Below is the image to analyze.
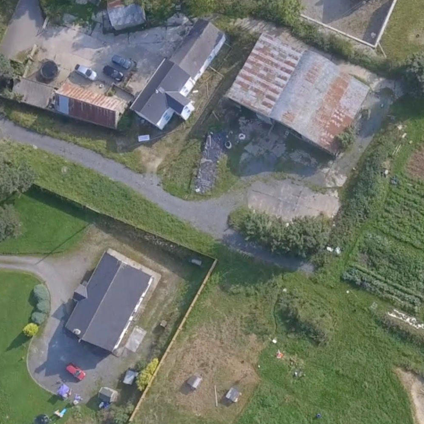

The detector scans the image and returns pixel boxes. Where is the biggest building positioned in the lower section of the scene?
[66,252,153,353]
